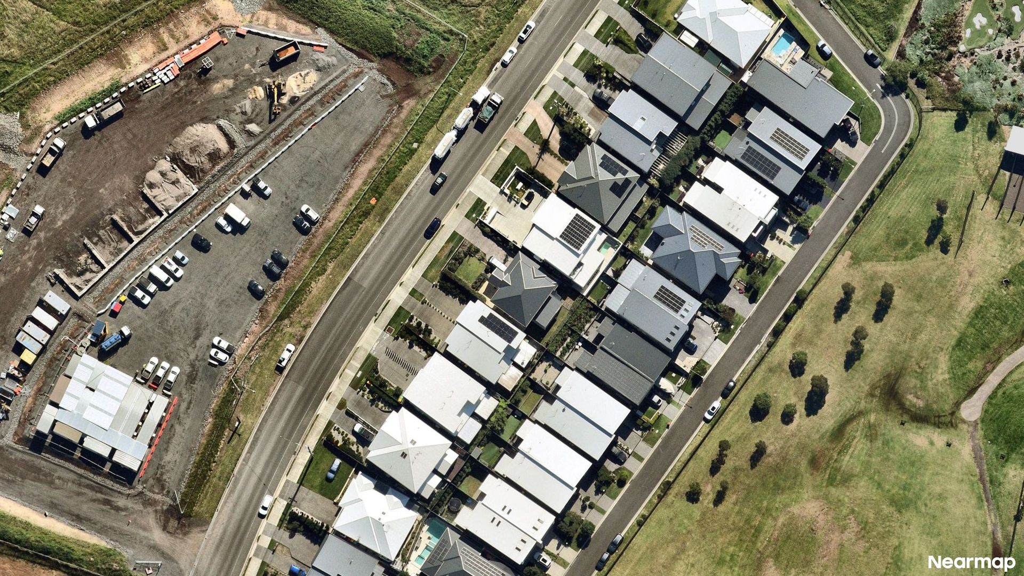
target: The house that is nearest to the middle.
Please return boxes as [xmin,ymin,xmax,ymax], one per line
[488,251,563,330]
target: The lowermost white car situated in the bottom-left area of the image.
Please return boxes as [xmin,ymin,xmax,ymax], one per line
[258,494,274,518]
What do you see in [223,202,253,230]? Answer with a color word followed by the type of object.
white truck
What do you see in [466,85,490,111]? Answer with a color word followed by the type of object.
white truck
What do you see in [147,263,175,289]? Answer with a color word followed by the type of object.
white vehicle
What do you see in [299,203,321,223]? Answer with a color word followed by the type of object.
white car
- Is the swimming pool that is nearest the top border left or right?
right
